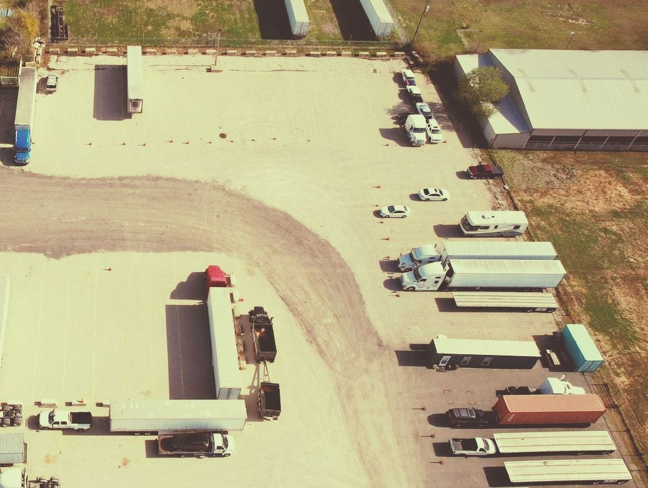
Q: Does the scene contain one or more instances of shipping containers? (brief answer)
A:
Yes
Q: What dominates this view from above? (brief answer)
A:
paved ground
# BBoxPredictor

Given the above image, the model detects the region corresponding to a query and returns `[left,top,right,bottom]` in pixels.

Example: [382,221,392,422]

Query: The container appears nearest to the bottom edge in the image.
[493,393,606,426]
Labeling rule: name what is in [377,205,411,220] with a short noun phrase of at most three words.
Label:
car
